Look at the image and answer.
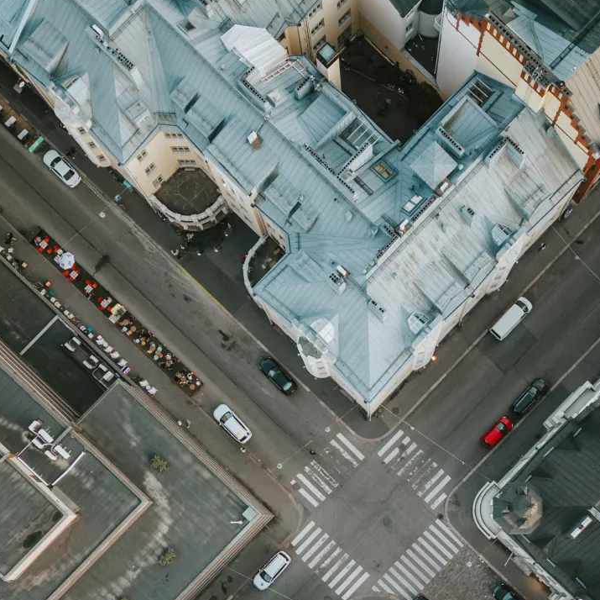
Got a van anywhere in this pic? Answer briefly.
Yes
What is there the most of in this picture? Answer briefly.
buildings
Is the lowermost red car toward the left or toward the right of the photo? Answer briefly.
right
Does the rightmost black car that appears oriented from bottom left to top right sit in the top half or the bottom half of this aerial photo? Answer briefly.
bottom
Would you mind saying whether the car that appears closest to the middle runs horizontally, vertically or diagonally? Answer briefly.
diagonally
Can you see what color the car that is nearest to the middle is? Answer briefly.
black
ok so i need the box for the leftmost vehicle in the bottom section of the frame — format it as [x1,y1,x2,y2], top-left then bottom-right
[210,400,258,448]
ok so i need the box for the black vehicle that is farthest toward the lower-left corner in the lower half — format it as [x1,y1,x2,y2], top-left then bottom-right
[256,352,302,397]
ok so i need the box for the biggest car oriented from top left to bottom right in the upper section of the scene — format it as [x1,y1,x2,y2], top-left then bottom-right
[39,145,85,194]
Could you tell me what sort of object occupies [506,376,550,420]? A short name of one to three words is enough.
car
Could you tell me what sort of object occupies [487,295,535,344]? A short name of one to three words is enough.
van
